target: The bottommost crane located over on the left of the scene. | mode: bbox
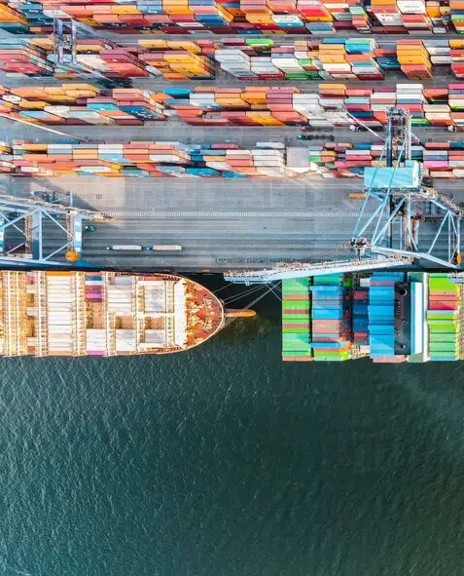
[0,193,104,269]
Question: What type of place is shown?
port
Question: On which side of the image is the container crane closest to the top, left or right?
left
